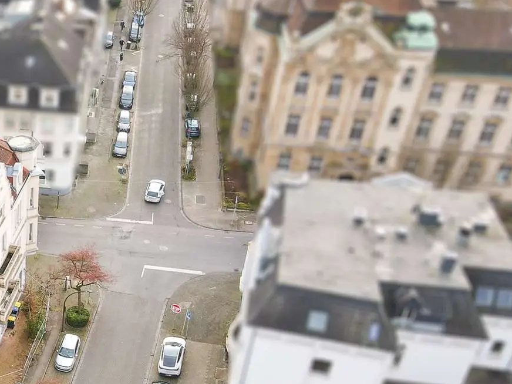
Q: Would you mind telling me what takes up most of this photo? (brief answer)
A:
buildings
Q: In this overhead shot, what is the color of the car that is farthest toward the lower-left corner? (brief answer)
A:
white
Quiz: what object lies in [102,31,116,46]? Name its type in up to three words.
vehicle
